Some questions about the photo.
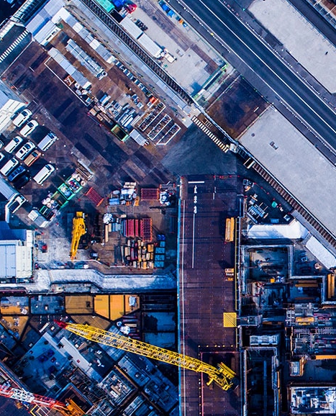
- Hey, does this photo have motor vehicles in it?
Yes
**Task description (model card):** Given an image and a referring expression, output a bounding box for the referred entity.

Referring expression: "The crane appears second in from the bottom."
[54,318,247,396]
